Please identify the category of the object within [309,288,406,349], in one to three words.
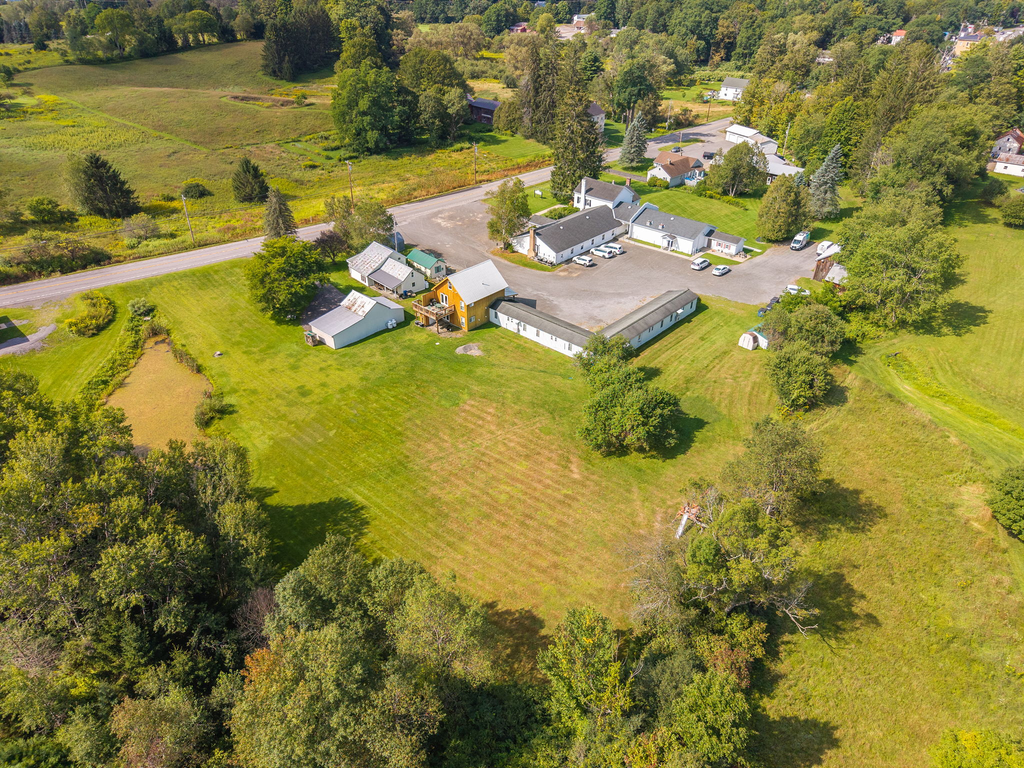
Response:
building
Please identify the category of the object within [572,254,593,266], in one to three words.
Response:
vehicle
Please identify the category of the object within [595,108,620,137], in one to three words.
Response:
house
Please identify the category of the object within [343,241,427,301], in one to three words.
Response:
house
